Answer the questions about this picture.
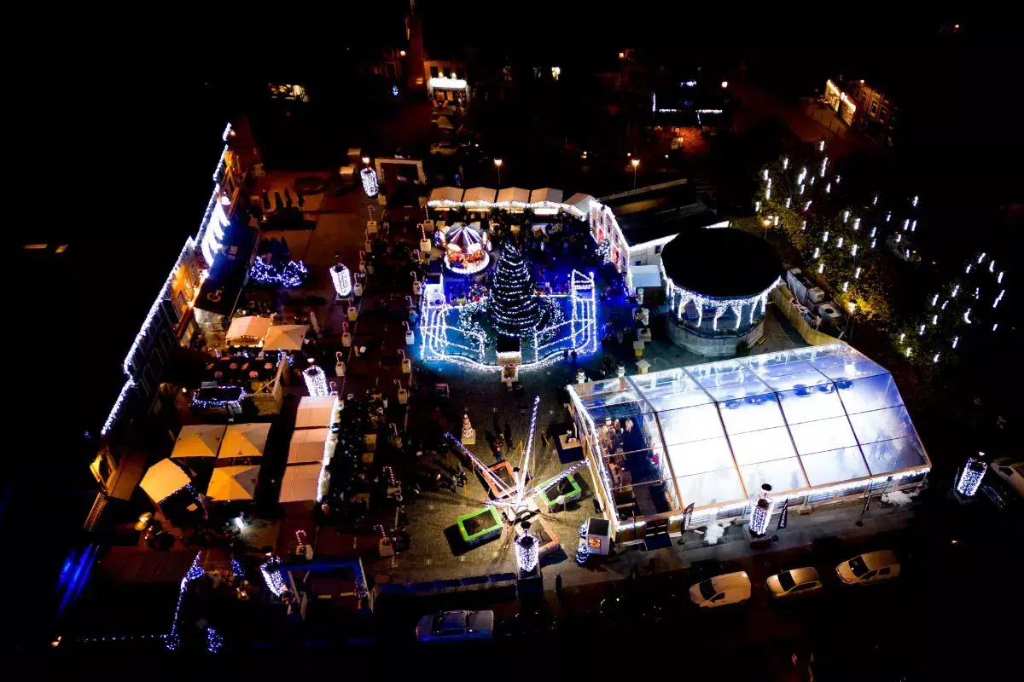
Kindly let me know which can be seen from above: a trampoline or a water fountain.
trampoline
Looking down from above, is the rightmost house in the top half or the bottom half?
top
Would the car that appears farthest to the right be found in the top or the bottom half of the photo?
bottom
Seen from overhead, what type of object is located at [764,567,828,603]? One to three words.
car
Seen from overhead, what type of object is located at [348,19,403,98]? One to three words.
house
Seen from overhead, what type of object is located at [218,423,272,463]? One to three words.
umbrella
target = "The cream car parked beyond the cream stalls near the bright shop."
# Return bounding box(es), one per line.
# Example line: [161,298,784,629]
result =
[430,140,463,157]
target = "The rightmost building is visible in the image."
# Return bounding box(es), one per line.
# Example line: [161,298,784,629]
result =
[862,53,956,145]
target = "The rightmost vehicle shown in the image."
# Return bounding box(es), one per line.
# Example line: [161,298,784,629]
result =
[986,451,1024,489]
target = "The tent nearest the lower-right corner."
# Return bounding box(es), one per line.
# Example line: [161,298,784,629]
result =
[567,341,935,564]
